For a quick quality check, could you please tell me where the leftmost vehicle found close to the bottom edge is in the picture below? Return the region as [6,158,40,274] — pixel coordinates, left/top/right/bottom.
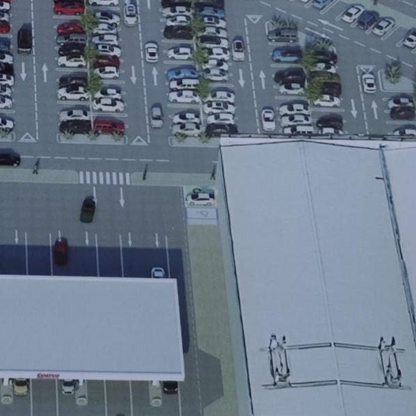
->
[14,377,29,399]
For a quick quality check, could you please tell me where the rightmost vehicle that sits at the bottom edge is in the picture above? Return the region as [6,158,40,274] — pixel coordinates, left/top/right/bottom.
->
[163,379,178,396]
